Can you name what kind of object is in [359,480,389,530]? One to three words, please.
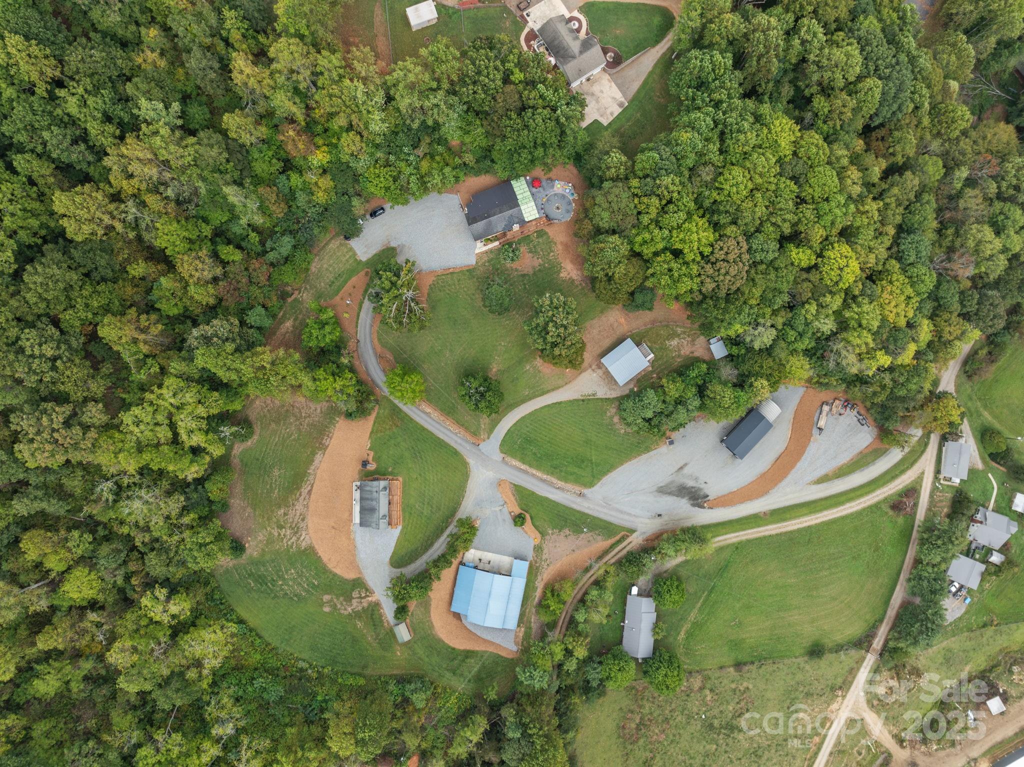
house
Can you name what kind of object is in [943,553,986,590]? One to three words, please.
building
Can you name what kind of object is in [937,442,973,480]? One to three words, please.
house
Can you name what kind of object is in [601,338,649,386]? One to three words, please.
barn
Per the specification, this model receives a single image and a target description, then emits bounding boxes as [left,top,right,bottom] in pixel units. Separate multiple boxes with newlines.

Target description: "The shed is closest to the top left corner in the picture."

[406,0,438,29]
